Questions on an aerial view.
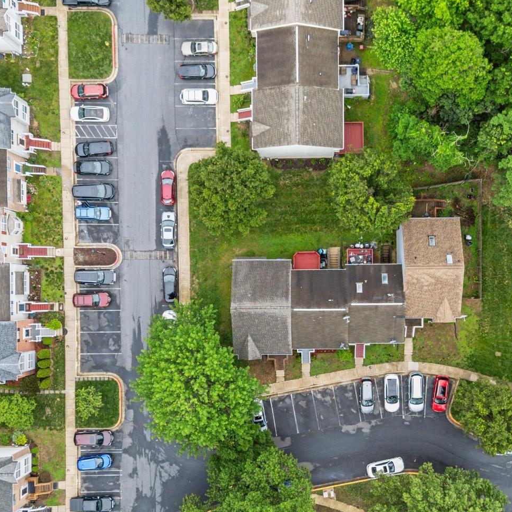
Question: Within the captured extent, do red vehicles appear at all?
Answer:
Yes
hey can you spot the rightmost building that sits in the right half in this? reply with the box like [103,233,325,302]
[397,198,465,337]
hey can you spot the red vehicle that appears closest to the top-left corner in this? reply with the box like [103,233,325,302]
[73,82,110,101]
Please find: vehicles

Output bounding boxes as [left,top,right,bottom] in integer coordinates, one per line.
[73,105,111,123]
[159,170,177,206]
[431,374,449,412]
[382,373,400,412]
[75,268,117,287]
[179,62,217,81]
[61,0,112,7]
[74,291,113,309]
[180,86,219,105]
[78,453,114,471]
[407,371,426,412]
[159,211,177,249]
[73,181,116,200]
[70,494,116,512]
[73,82,110,101]
[182,39,219,58]
[75,429,115,448]
[76,139,115,157]
[76,199,113,222]
[358,376,376,414]
[366,455,405,477]
[161,310,179,344]
[74,158,113,176]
